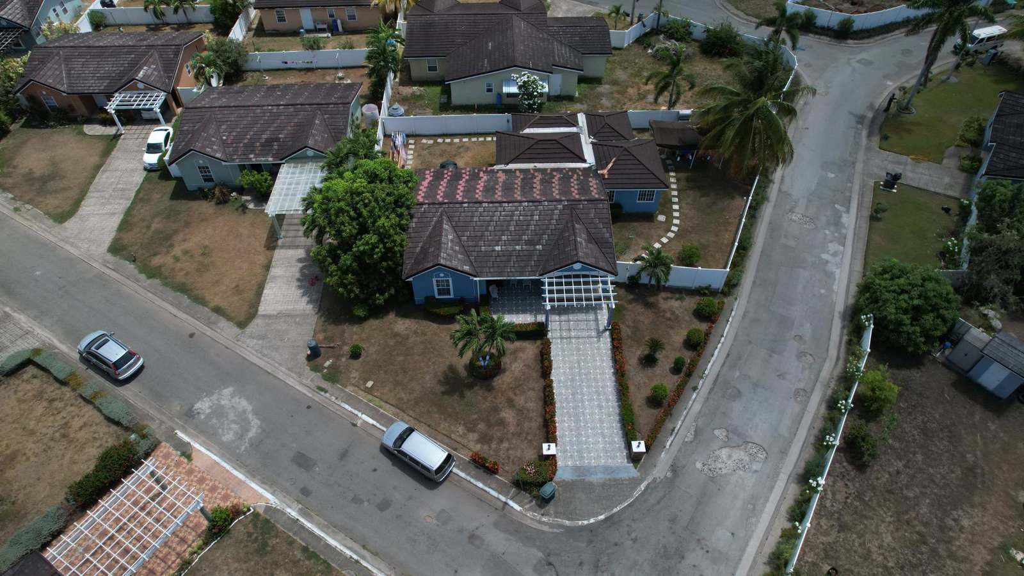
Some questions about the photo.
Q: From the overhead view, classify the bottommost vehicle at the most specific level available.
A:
car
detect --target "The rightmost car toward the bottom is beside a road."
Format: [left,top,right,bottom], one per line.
[383,424,464,485]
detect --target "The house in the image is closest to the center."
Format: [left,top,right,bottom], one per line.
[402,111,669,304]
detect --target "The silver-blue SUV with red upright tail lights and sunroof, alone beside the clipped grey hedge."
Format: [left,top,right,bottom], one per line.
[75,334,142,381]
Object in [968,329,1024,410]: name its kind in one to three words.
shed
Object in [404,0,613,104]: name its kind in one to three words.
house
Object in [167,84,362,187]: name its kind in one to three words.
house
